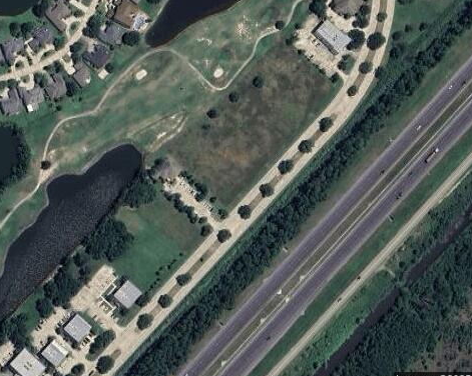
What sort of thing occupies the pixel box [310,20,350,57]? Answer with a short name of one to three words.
building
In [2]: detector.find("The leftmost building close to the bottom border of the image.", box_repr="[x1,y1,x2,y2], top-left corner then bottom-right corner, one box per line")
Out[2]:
[12,349,46,376]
